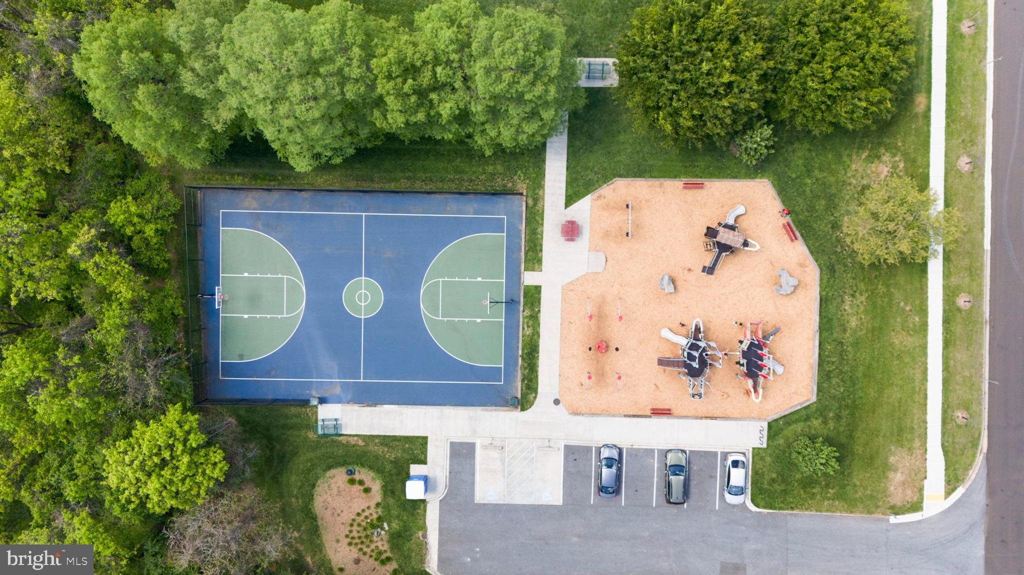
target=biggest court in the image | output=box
[197,189,526,413]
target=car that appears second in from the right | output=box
[664,448,690,505]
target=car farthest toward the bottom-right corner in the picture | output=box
[722,452,749,504]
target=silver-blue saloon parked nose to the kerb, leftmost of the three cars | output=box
[597,444,622,498]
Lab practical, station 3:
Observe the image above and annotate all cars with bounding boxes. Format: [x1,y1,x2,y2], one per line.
[722,452,749,504]
[597,444,622,498]
[664,448,690,505]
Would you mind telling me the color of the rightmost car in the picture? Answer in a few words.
white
